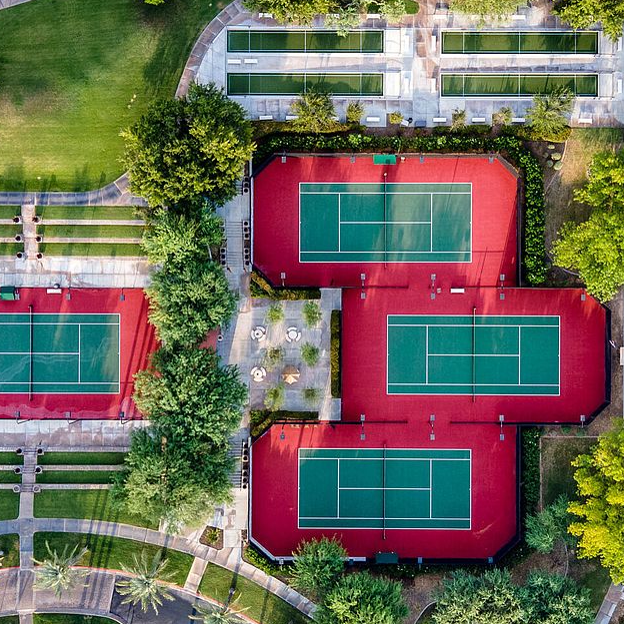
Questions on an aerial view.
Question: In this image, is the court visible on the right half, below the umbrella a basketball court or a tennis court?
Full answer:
I'd say the court visible on the right half, below the umbrella is a tennis court.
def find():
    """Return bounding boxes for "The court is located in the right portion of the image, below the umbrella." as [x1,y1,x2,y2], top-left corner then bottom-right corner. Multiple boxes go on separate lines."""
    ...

[251,424,516,558]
